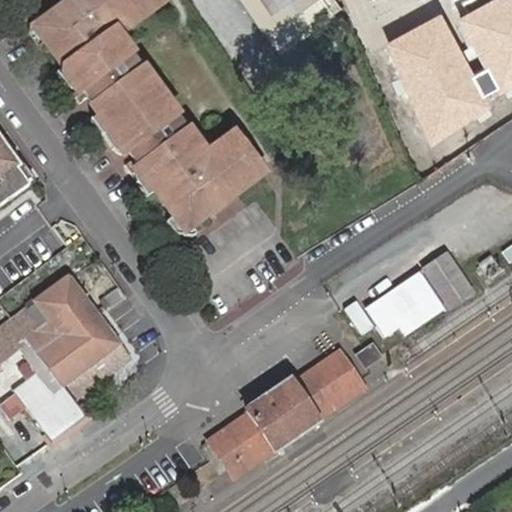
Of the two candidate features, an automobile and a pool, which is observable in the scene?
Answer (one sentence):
The one in the frame is an automobile.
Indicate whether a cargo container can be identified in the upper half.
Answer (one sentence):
No, looking in the upper half, there is no cargo container.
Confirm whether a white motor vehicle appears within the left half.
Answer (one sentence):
Yes, a white motor vehicle shows up within the left half.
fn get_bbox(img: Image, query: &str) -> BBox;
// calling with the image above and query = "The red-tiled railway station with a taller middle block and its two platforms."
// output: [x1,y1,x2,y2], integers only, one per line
[186,292,512,512]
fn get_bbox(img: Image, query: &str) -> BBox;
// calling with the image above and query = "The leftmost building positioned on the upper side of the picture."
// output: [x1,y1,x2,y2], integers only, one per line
[0,132,34,204]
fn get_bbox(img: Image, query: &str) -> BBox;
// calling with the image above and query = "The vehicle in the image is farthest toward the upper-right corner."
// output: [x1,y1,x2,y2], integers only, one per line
[354,216,376,234]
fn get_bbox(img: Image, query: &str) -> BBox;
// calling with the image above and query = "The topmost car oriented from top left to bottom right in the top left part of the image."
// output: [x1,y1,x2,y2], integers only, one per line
[6,108,22,128]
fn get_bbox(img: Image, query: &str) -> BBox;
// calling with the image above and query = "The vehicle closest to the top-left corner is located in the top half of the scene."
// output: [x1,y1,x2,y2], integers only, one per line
[6,44,26,61]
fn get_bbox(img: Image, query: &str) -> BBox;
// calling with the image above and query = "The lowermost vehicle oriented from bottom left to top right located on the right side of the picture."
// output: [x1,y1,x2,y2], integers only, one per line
[366,278,391,298]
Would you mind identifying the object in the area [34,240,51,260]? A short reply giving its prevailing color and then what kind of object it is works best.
white car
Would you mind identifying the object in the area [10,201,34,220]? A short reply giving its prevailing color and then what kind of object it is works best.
white vehicle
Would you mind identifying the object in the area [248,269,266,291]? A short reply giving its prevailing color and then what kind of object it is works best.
white car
